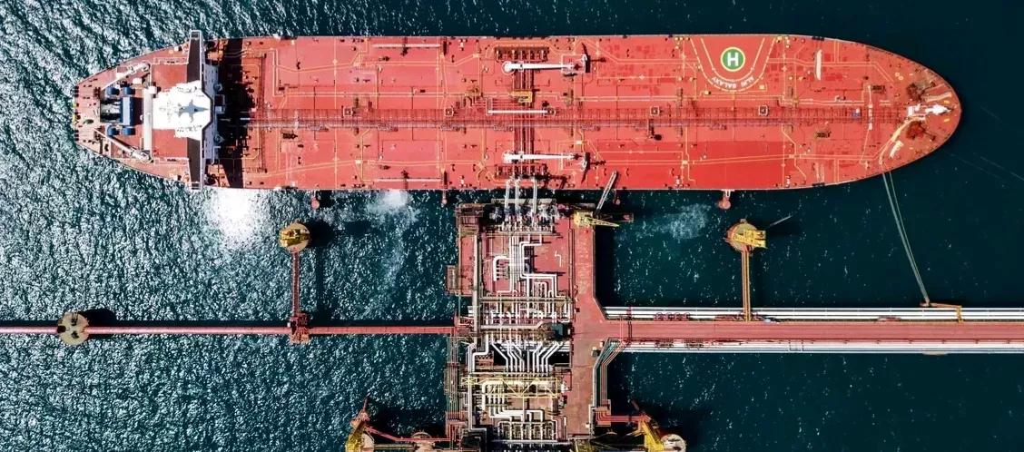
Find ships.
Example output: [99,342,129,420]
[75,30,961,196]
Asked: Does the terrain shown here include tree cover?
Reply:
No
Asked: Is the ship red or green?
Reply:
red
